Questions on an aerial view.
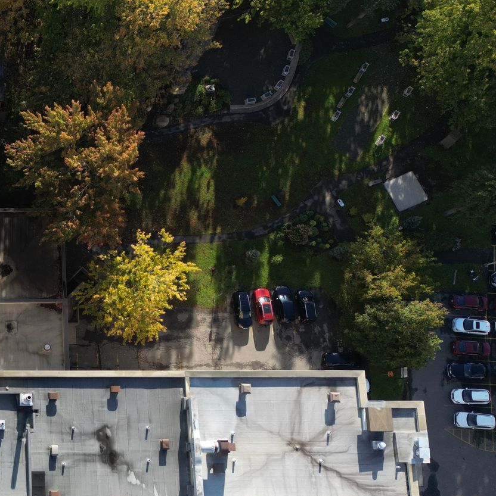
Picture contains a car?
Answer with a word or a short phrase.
Yes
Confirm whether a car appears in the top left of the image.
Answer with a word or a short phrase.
No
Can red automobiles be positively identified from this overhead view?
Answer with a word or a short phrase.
Yes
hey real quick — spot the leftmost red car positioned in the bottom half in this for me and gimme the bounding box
[252,289,274,324]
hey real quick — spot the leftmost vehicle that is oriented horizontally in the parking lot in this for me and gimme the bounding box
[318,351,361,369]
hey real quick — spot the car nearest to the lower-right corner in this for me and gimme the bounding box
[452,410,496,430]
